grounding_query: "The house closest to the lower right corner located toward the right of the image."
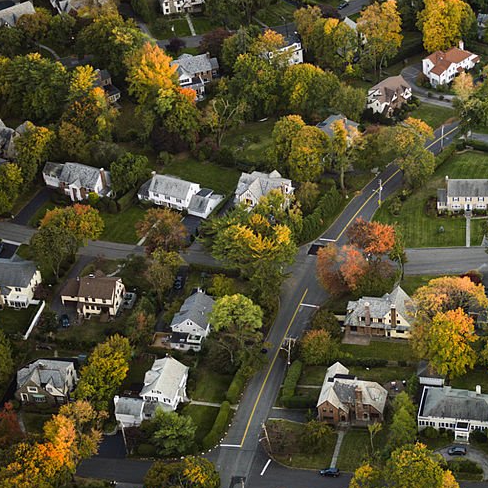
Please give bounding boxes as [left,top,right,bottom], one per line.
[417,378,488,453]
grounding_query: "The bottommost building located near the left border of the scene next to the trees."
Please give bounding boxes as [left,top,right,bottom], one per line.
[13,358,82,411]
